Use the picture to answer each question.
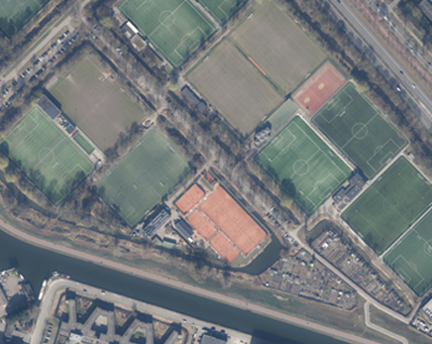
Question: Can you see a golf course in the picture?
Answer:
No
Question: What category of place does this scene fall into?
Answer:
sports ground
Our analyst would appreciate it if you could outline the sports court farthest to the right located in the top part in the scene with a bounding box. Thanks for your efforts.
[293,62,346,115]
